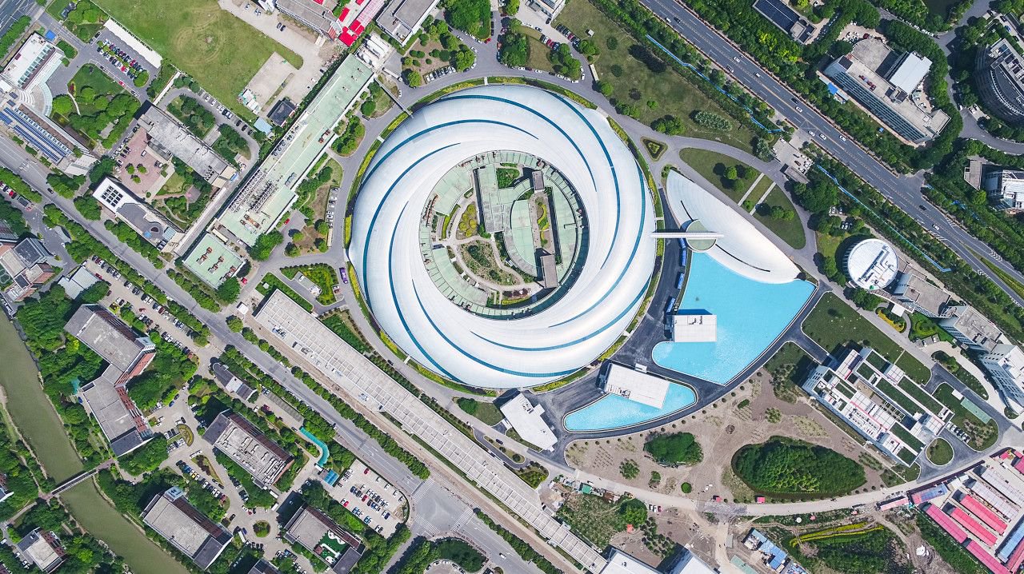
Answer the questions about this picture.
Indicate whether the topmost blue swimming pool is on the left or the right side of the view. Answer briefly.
right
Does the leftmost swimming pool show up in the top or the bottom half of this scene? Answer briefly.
bottom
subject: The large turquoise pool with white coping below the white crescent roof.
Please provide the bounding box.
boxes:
[650,250,818,388]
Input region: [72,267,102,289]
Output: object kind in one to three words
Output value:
shed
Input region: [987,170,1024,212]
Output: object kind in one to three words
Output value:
building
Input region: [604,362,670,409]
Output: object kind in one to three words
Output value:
building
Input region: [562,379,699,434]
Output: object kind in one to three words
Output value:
swimming pool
